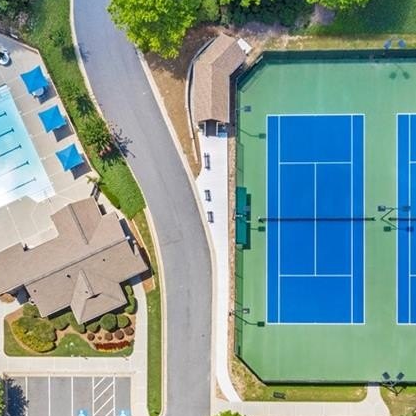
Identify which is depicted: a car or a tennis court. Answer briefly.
tennis court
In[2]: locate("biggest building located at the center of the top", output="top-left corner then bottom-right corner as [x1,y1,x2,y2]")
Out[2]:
[193,33,247,126]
